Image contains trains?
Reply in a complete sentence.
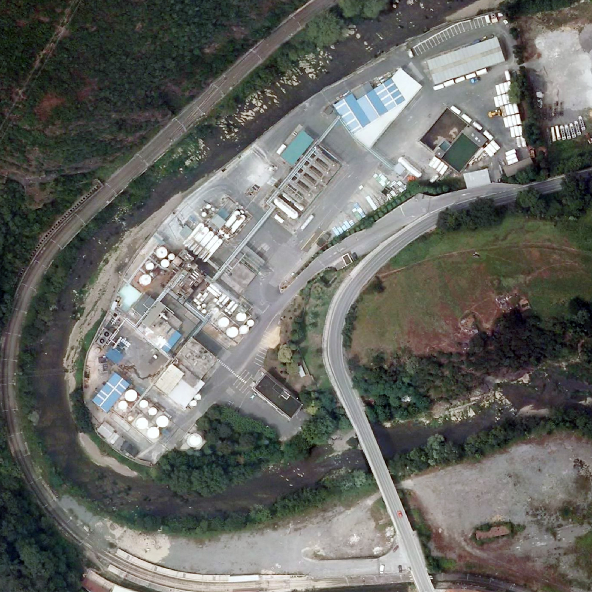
Yes, this view includes a train.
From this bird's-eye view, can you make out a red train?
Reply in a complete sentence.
No, there appears to be no red train in this shot.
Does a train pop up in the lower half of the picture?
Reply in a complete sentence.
Yes, looking in the lower half of the picture, one can make out a train.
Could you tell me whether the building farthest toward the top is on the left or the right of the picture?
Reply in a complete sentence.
It is on the right.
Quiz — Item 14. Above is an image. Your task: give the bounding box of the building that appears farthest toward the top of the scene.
[427,36,504,86]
